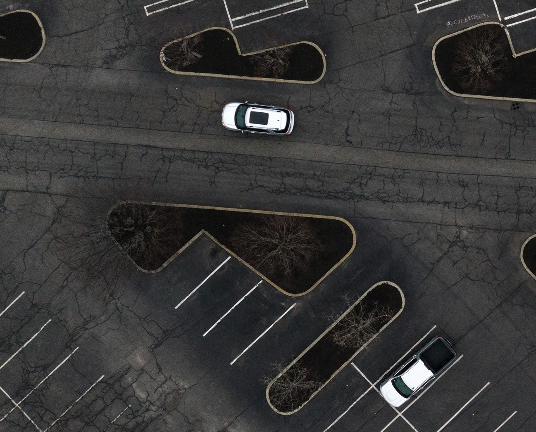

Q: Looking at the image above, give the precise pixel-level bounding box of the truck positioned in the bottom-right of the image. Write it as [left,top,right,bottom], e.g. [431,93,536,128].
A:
[383,334,458,408]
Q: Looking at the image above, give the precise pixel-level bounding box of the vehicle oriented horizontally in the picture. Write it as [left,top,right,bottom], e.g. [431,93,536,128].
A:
[222,100,295,135]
